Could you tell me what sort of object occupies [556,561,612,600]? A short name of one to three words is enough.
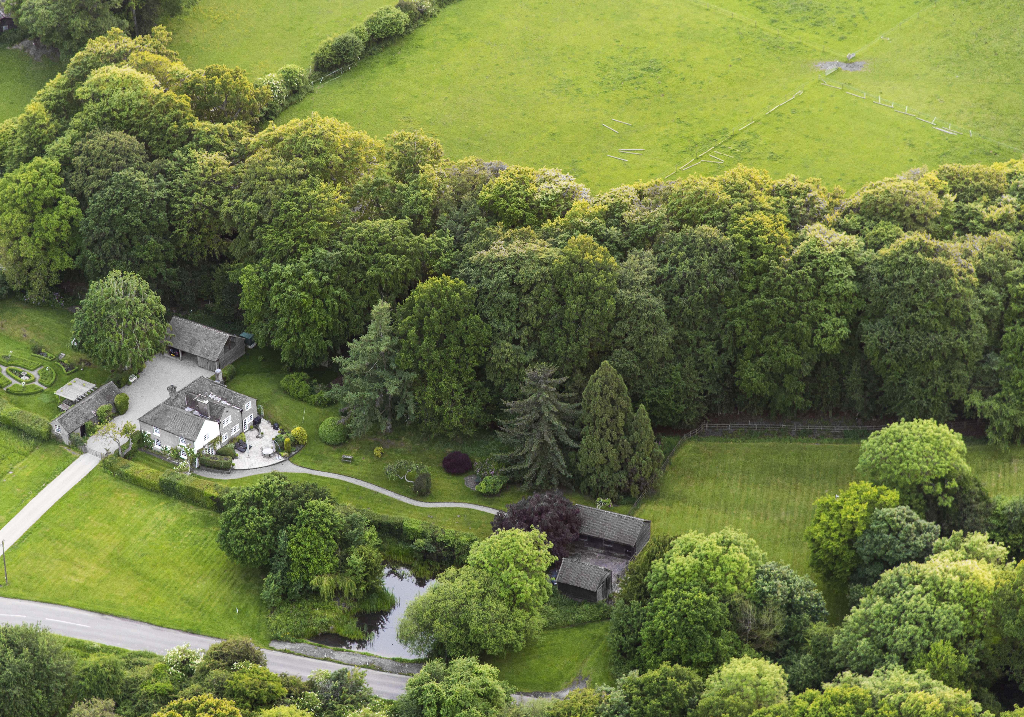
building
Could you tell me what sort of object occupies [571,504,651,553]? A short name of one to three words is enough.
building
